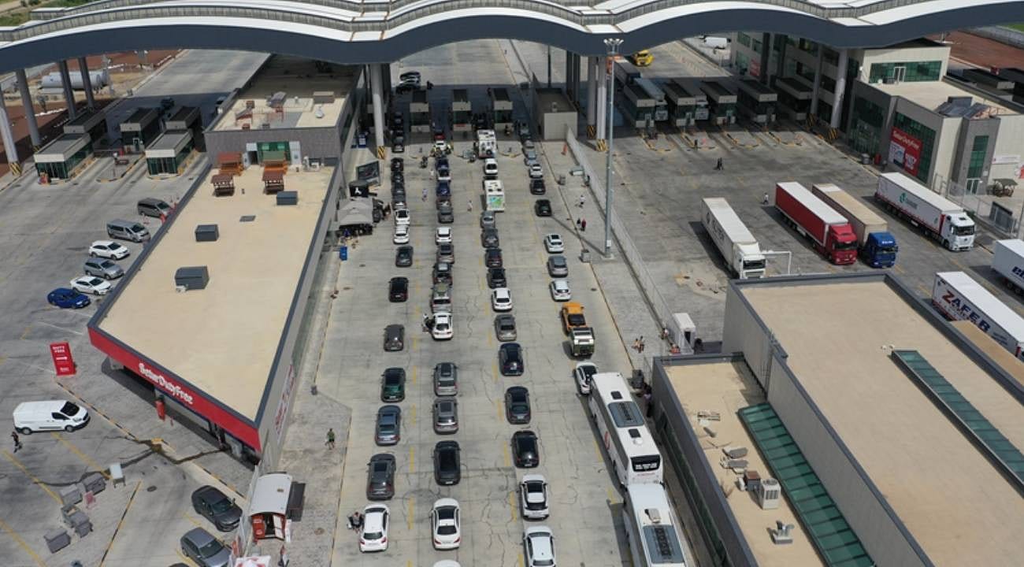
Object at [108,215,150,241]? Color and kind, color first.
gray vehicle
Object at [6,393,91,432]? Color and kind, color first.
white van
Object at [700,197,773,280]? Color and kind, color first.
white truck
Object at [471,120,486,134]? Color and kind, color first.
black car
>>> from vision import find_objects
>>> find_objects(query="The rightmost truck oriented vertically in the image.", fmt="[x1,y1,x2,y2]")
[999,241,1024,297]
